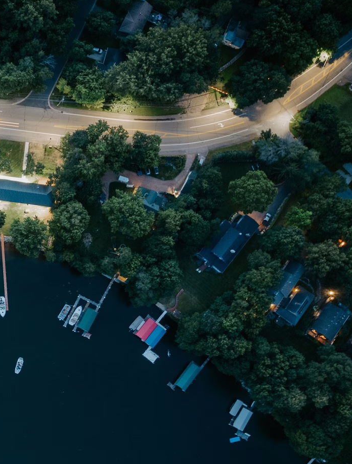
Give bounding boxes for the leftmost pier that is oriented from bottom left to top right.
[64,273,119,339]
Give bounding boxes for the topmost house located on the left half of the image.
[114,0,167,43]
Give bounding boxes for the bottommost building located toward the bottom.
[304,302,350,345]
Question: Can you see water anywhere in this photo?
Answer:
Yes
